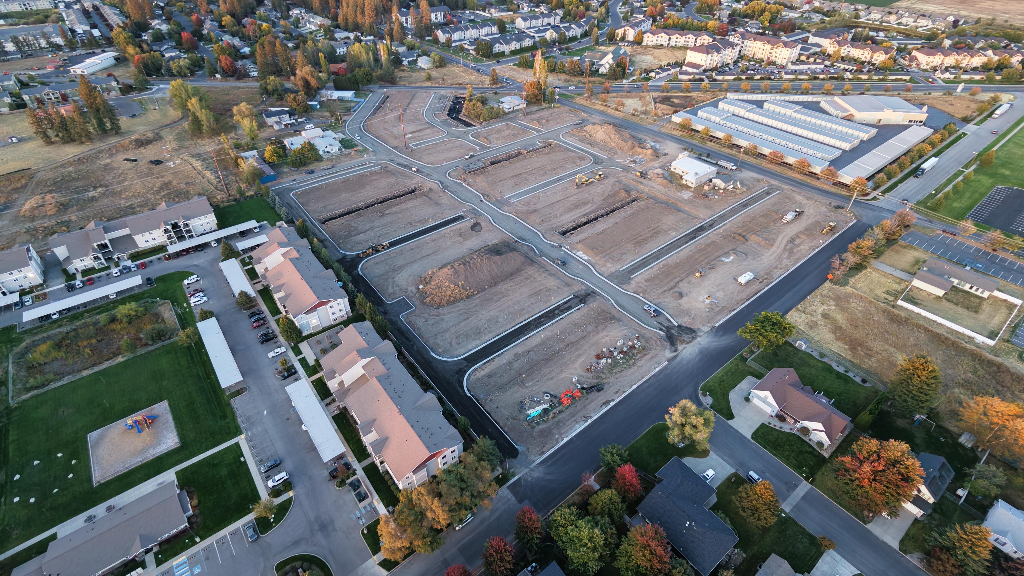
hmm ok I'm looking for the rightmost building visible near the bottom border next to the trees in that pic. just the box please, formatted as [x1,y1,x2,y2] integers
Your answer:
[982,499,1024,563]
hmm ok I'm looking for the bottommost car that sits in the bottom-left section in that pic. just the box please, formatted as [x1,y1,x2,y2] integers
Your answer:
[241,519,257,542]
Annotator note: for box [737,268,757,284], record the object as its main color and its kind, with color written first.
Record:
white vehicle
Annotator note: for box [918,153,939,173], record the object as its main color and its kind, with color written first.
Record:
white vehicle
